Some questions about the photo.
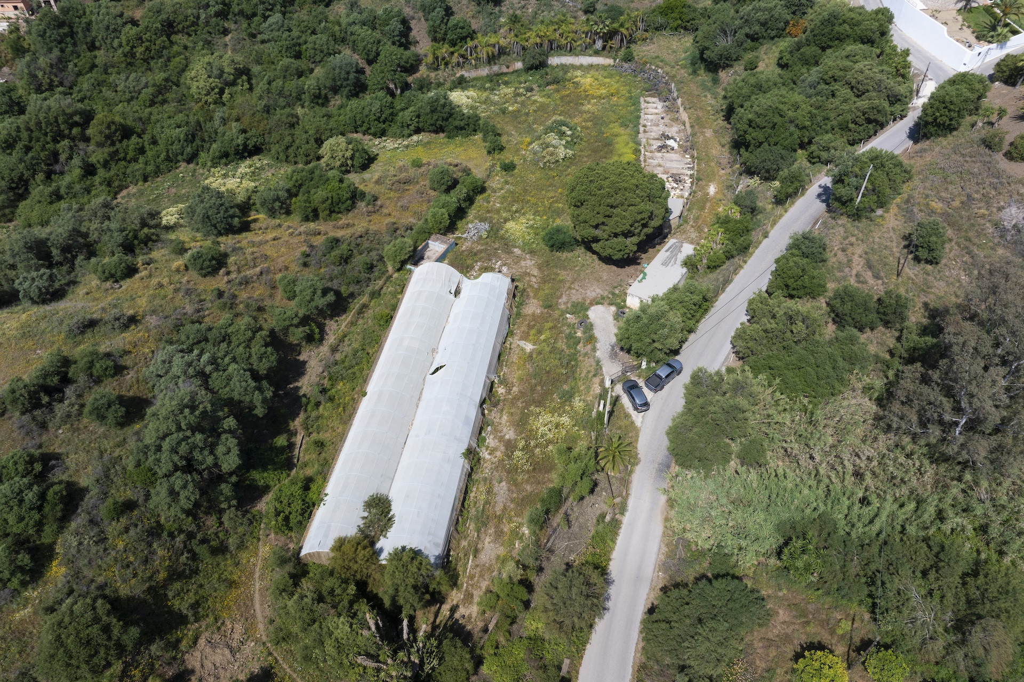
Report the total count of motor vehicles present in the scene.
2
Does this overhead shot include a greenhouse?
Yes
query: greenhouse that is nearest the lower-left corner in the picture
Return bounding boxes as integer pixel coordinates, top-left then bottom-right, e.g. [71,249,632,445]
[300,263,519,577]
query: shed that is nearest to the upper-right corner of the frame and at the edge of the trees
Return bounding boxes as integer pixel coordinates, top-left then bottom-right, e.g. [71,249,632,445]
[662,198,684,237]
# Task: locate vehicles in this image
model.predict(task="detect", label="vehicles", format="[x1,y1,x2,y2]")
[621,376,652,412]
[641,356,687,393]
